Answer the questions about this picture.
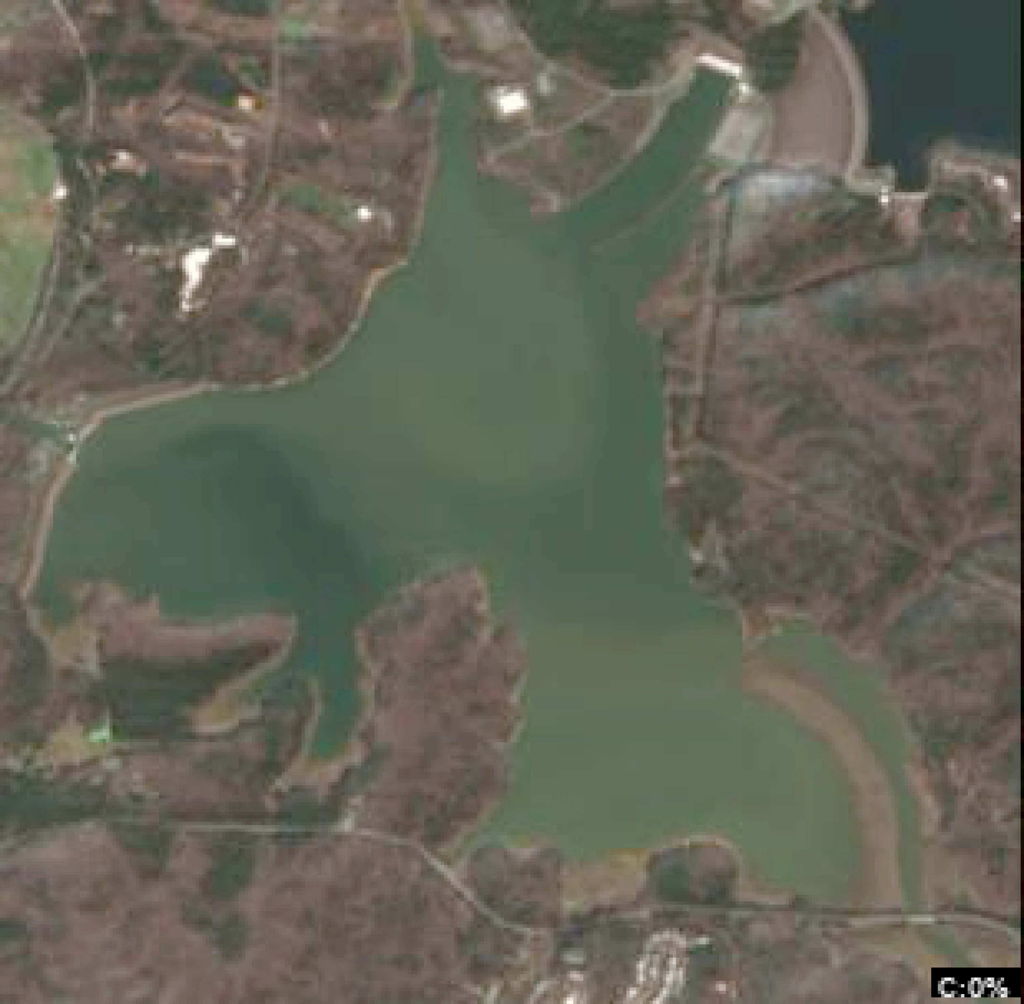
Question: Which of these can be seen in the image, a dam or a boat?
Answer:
dam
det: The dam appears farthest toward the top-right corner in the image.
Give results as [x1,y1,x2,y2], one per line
[770,3,873,173]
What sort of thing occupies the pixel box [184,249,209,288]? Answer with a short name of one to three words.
building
